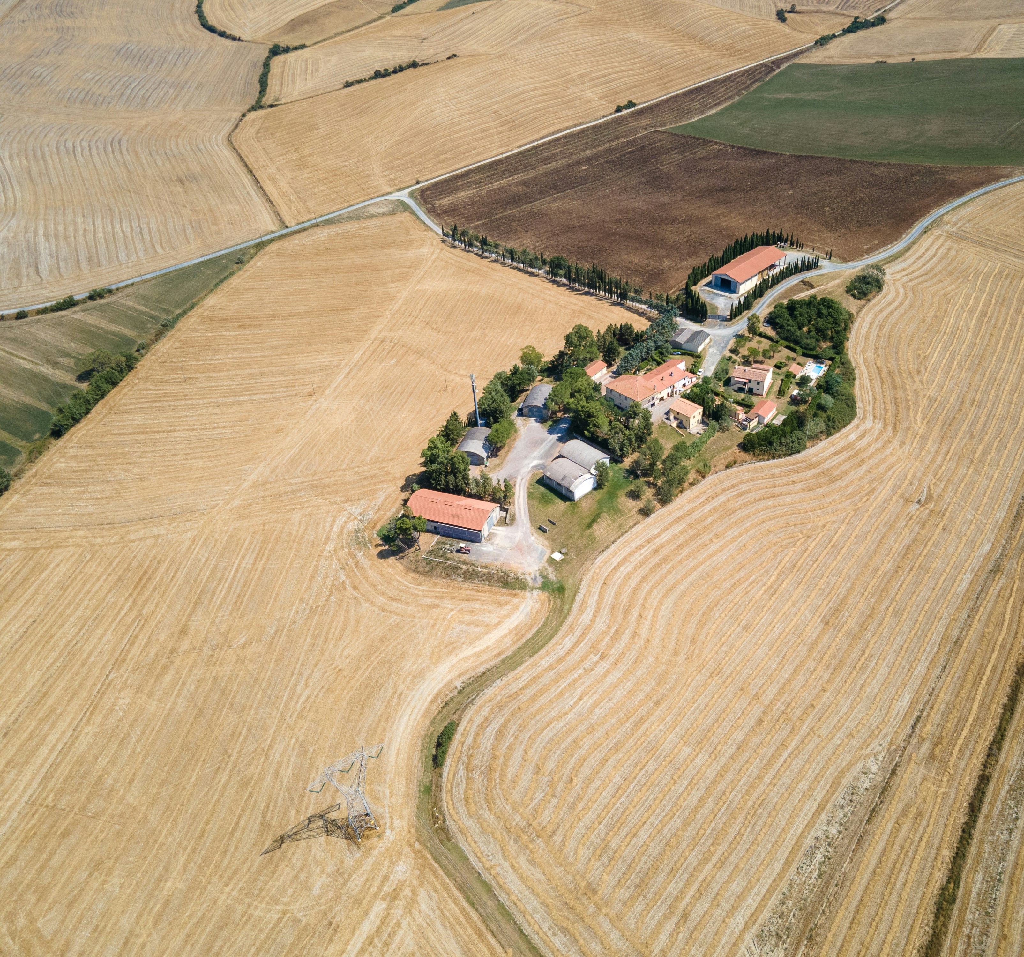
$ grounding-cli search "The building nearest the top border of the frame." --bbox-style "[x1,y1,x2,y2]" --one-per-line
[711,251,799,297]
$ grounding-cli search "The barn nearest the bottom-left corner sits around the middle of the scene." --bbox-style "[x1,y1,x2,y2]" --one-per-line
[402,489,502,544]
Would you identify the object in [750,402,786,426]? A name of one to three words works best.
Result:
house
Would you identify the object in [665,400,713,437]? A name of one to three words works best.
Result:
house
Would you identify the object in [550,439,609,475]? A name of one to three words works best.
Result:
shed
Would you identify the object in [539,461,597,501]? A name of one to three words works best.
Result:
shed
